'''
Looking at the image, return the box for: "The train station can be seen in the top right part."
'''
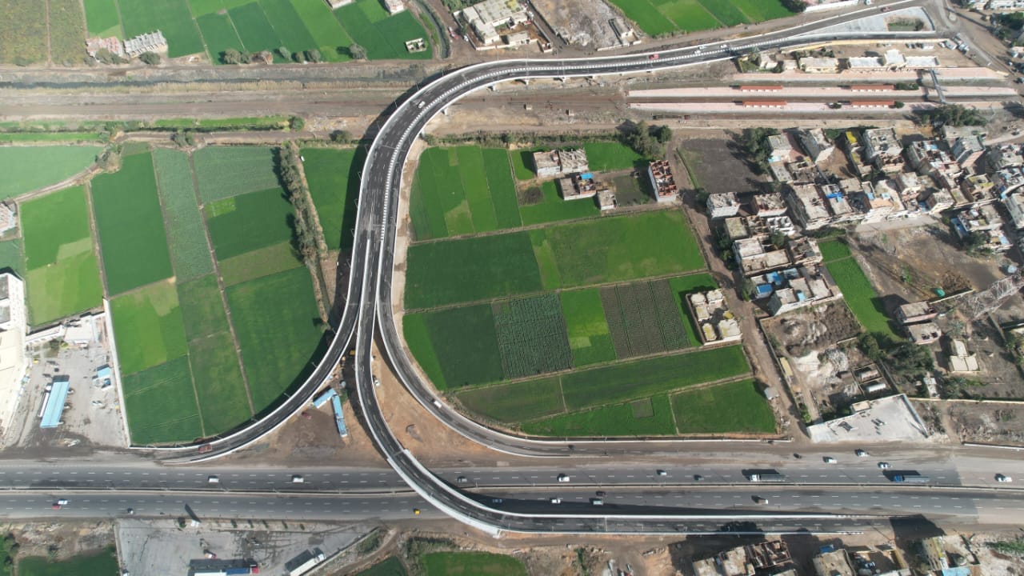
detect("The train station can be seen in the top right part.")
[629,68,1018,113]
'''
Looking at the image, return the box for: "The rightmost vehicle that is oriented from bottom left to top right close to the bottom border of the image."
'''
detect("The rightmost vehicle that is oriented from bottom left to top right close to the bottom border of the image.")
[289,551,325,576]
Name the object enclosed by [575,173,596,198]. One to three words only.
house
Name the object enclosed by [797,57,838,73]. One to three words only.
house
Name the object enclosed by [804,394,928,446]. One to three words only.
building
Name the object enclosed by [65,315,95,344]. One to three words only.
building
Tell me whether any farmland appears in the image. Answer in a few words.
Yes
